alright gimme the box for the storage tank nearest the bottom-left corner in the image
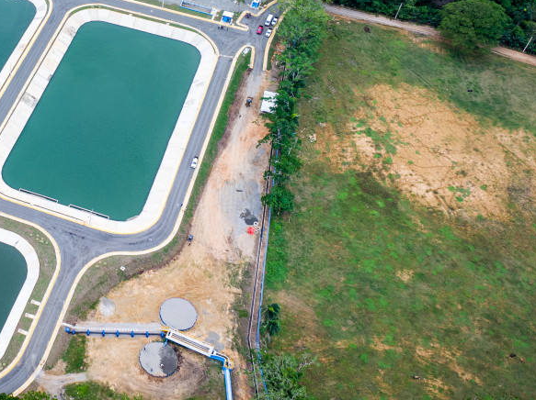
[139,342,180,379]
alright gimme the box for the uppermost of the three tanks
[159,294,199,330]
